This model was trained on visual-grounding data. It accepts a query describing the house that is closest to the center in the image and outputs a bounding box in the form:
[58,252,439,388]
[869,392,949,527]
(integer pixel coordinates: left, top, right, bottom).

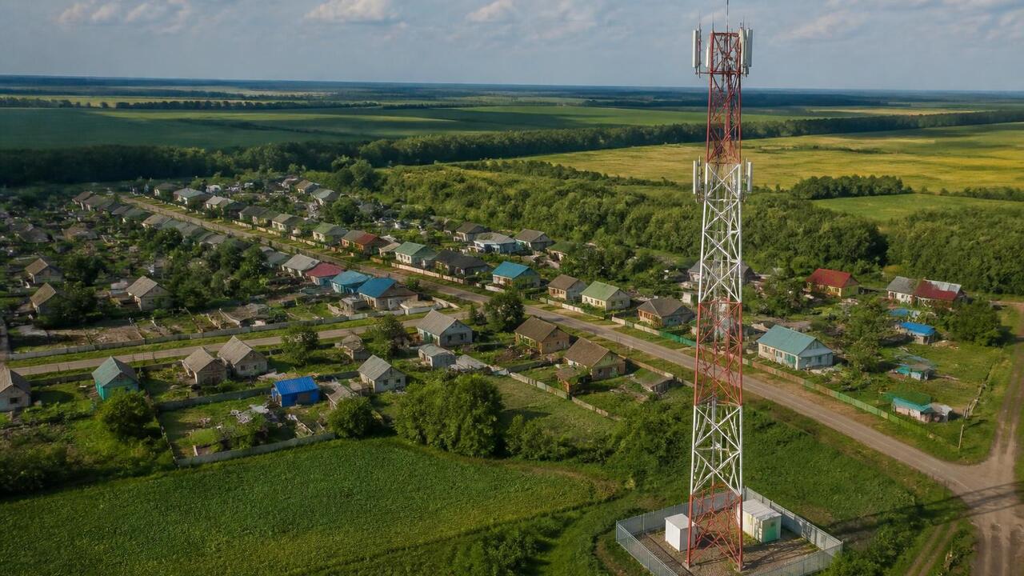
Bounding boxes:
[491,258,542,287]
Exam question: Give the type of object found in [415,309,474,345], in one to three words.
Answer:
house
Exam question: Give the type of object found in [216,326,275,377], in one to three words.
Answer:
house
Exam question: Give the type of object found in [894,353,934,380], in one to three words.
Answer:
shed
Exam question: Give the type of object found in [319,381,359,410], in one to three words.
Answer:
shed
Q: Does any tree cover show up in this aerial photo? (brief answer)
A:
Yes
